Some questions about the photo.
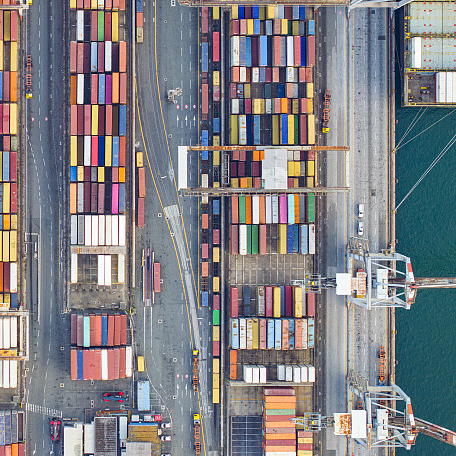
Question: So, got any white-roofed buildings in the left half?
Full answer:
Yes, in the left half there is a white-roofed building.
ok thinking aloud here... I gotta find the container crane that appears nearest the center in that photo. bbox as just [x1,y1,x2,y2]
[177,140,349,201]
